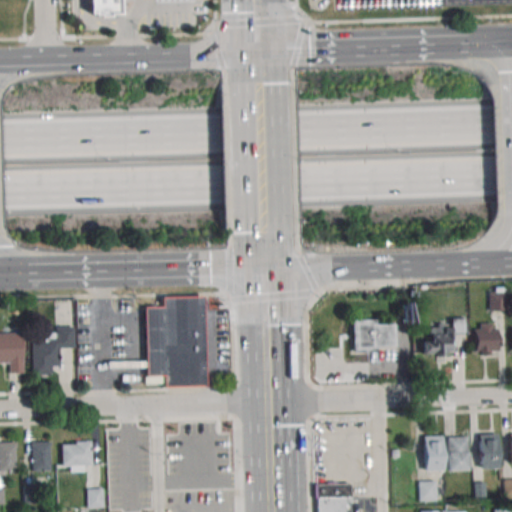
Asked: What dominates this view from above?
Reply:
paved ground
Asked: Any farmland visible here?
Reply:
No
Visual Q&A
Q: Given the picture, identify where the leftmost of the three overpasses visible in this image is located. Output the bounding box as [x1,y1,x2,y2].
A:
[0,74,62,247]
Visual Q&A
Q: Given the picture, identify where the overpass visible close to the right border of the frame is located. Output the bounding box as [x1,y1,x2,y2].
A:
[448,62,512,249]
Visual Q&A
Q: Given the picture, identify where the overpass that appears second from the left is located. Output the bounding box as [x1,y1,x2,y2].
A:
[221,68,303,247]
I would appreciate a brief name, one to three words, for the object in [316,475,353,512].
building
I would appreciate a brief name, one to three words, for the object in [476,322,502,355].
house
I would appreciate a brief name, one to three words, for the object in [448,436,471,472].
house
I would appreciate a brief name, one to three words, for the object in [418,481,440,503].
building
